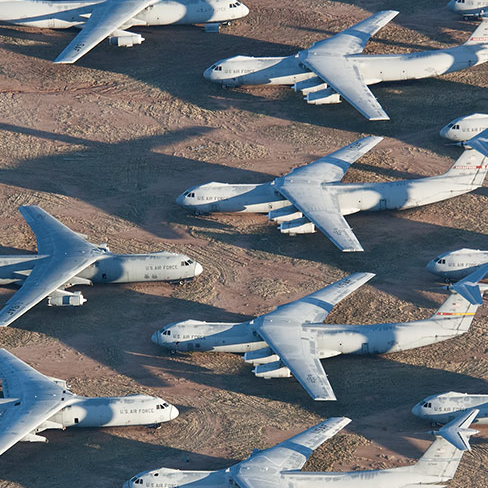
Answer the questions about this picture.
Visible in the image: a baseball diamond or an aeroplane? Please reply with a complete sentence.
Looking from above, you can make out an aeroplane.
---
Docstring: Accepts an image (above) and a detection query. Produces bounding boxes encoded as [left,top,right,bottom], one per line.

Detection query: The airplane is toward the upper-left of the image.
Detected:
[0,0,249,65]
